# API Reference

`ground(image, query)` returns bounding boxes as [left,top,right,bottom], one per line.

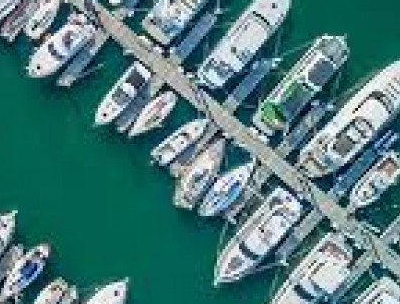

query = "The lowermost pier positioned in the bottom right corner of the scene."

[328,245,381,304]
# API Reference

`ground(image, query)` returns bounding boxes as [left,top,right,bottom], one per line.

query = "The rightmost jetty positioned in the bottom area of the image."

[374,212,400,245]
